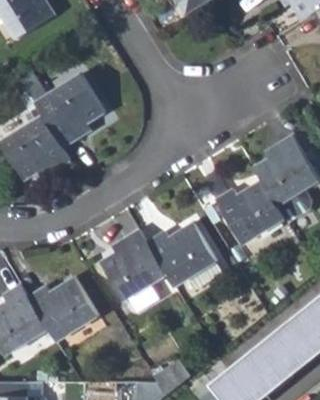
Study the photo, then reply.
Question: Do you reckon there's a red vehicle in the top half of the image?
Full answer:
Yes, a red vehicle can be seen in the top half of the image.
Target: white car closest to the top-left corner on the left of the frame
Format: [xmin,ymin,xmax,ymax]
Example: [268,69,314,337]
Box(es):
[76,144,93,168]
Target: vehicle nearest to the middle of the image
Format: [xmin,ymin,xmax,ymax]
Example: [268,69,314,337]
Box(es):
[154,172,174,188]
